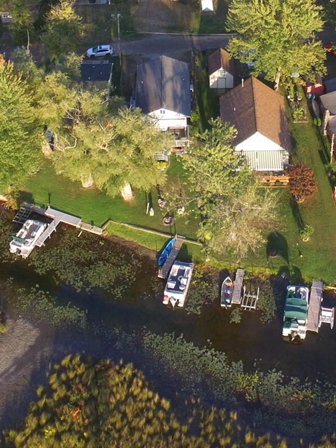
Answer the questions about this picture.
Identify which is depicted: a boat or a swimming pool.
boat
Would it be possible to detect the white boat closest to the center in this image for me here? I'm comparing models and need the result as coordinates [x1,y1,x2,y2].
[163,260,194,305]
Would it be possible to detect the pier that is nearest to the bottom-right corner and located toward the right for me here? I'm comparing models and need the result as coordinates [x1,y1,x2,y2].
[305,281,323,338]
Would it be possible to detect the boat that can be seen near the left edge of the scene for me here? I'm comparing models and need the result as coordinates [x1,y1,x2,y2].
[9,220,45,257]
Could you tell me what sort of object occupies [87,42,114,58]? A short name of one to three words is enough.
car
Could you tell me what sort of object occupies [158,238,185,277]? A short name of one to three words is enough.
pier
